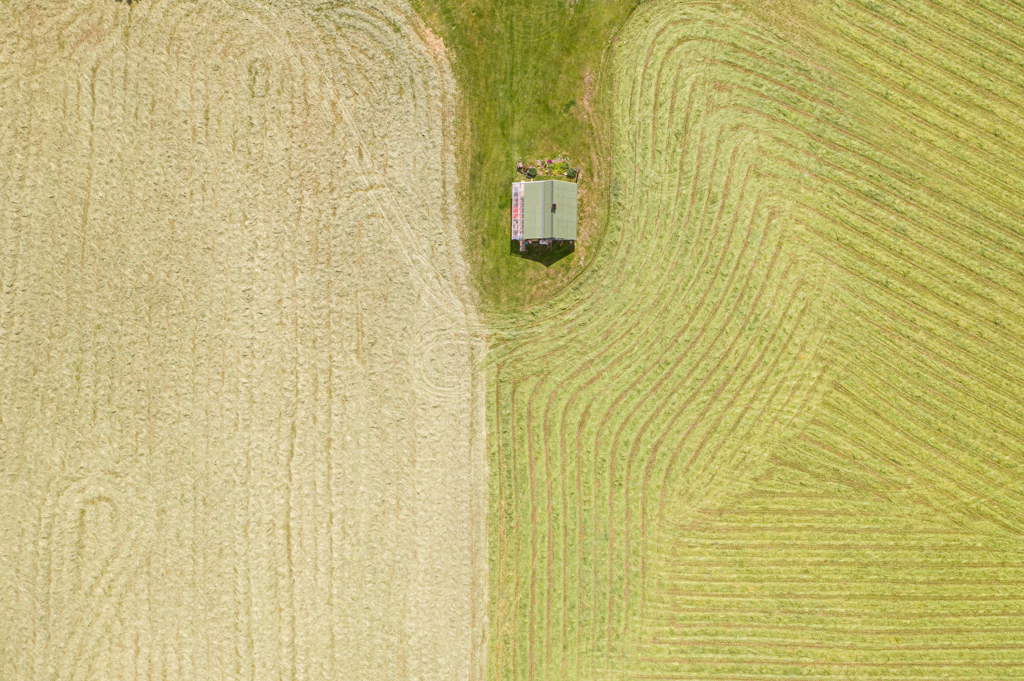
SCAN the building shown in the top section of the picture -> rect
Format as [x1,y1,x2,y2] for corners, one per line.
[512,179,577,241]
